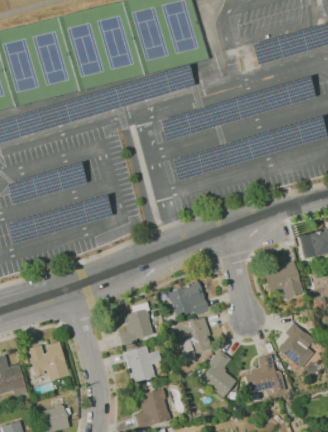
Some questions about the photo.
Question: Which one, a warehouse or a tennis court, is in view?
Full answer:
Looking from above, you can make out a tennis court.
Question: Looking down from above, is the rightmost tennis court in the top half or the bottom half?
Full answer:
The rightmost tennis court sits in the top half of the picture.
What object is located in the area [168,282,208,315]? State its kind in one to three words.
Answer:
house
